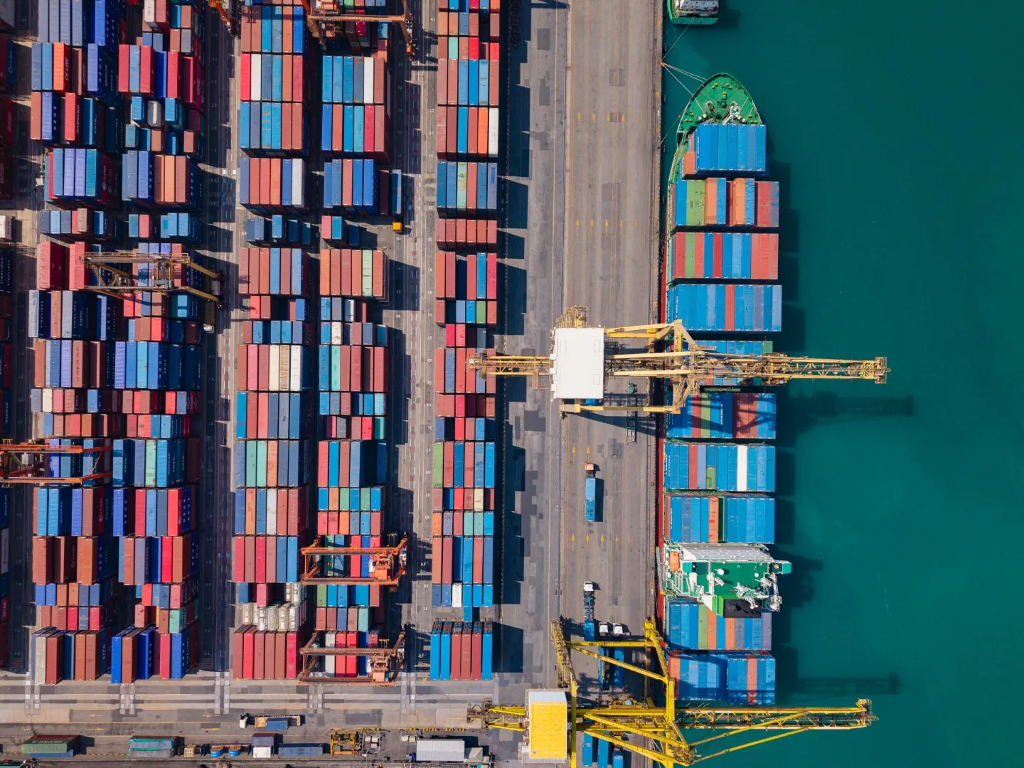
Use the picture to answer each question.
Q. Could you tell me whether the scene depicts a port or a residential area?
port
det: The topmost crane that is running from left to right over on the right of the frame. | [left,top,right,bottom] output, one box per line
[472,309,897,419]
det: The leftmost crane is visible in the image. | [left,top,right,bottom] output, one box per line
[0,433,127,486]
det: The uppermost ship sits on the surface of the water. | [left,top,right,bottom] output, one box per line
[668,0,722,22]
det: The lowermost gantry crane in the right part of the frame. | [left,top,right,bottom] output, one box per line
[467,614,884,768]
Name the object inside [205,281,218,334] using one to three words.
vehicle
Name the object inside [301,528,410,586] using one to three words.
container crane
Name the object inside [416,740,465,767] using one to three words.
shed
